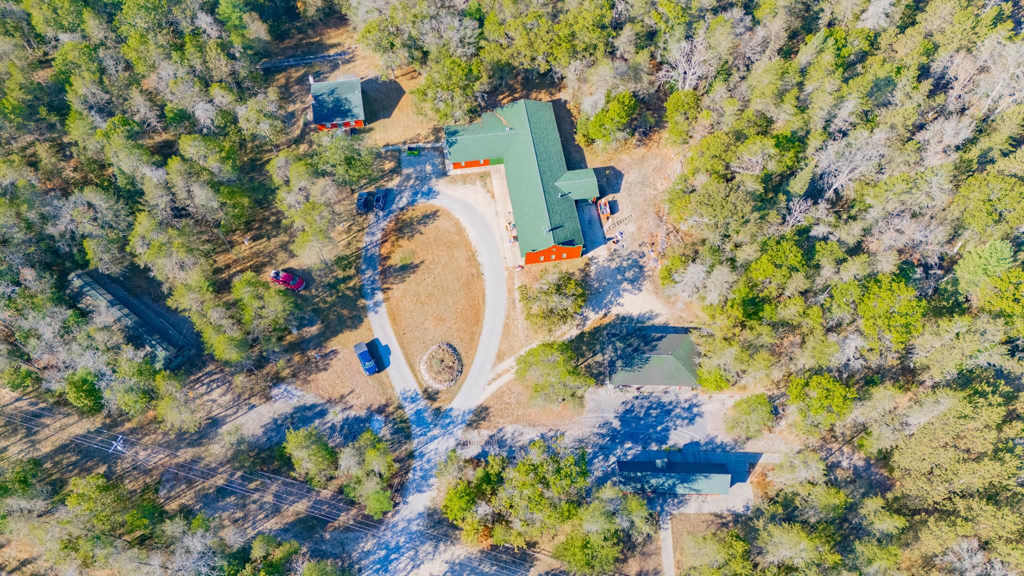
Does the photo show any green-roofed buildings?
Yes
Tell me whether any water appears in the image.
No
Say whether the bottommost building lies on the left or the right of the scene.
right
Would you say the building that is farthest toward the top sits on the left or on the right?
left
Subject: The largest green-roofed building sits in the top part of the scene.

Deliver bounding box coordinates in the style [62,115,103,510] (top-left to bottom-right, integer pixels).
[445,100,599,264]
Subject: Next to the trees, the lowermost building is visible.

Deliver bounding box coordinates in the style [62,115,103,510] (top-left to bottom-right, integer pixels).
[616,460,731,496]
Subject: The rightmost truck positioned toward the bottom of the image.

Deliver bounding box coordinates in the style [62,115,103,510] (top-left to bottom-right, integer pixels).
[352,340,379,379]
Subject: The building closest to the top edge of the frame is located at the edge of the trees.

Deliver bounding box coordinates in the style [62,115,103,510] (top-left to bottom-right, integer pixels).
[308,72,366,138]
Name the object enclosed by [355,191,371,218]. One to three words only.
car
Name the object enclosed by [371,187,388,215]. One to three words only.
car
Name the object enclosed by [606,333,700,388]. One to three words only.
building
